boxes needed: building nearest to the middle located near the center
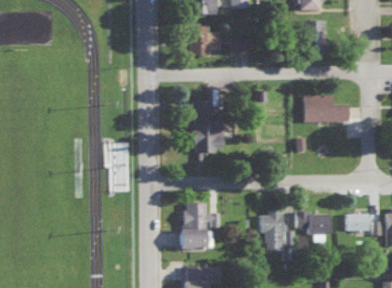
[192,127,226,161]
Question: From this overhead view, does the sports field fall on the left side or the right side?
left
